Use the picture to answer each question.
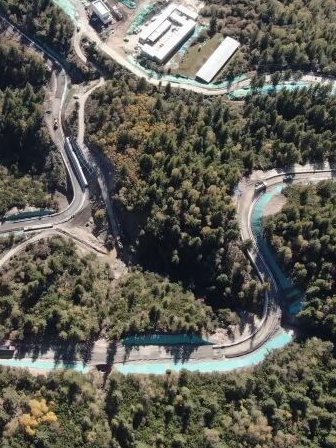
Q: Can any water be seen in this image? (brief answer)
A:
No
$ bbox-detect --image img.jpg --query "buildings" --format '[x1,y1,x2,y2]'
[195,36,240,85]
[139,2,199,63]
[92,0,112,23]
[62,138,90,188]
